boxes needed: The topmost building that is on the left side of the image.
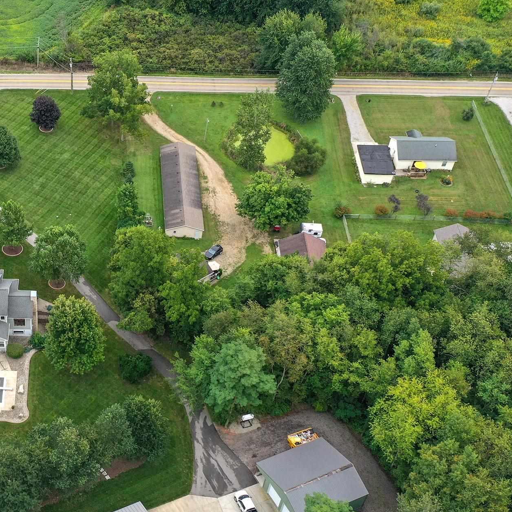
[160,139,204,240]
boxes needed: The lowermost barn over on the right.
[255,438,368,512]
